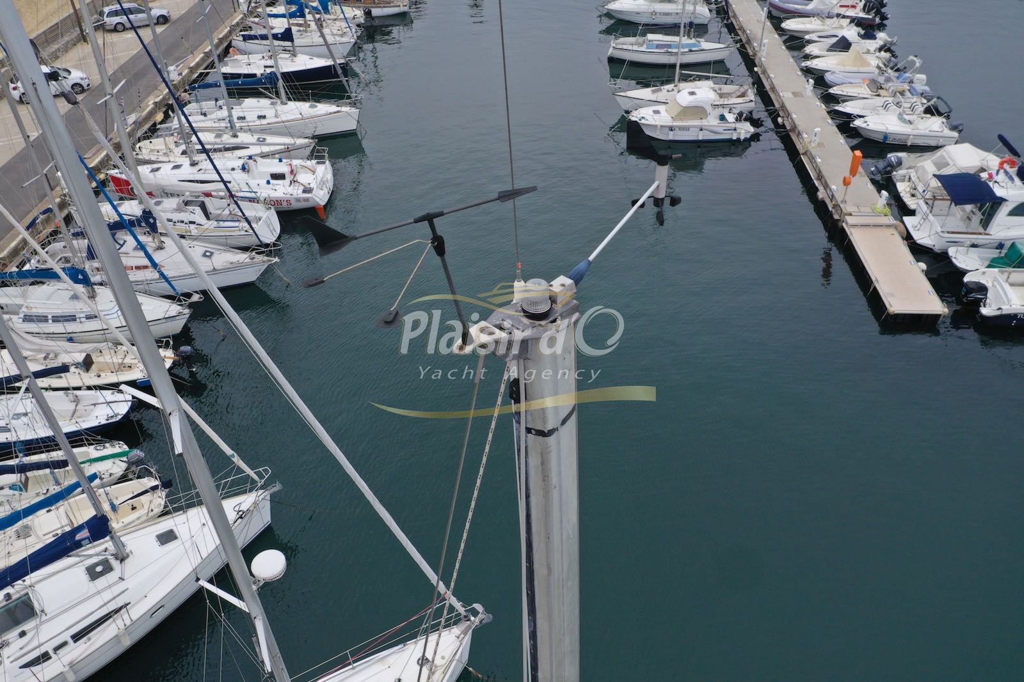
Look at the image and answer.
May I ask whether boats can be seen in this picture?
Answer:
Yes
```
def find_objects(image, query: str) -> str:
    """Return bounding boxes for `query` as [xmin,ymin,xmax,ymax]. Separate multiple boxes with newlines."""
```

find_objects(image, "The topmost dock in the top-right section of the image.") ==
[722,0,898,230]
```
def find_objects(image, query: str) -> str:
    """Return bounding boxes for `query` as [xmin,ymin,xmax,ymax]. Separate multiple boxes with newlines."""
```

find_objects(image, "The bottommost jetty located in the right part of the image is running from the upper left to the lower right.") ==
[842,219,954,328]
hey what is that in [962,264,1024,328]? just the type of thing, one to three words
boat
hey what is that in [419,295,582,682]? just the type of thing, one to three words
boat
